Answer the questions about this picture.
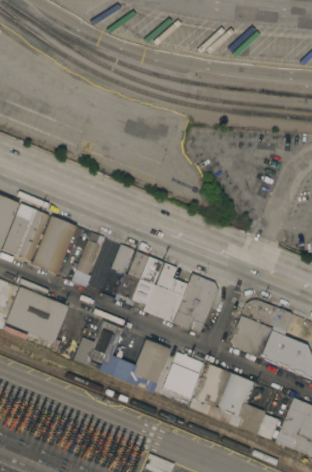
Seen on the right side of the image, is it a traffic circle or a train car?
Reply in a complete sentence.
It is a train car that can be seen on the right side of the image.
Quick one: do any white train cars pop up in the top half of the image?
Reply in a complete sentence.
No, there's no white train car to be seen in the top half of the image.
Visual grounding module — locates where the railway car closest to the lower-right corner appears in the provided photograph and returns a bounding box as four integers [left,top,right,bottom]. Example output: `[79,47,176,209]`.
[250,448,280,466]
